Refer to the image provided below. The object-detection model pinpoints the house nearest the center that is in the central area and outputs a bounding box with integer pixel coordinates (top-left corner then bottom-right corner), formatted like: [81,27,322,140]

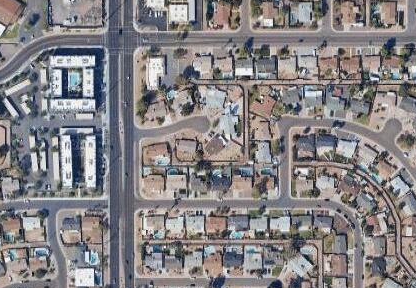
[201,135,226,160]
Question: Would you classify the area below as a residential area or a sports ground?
residential area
